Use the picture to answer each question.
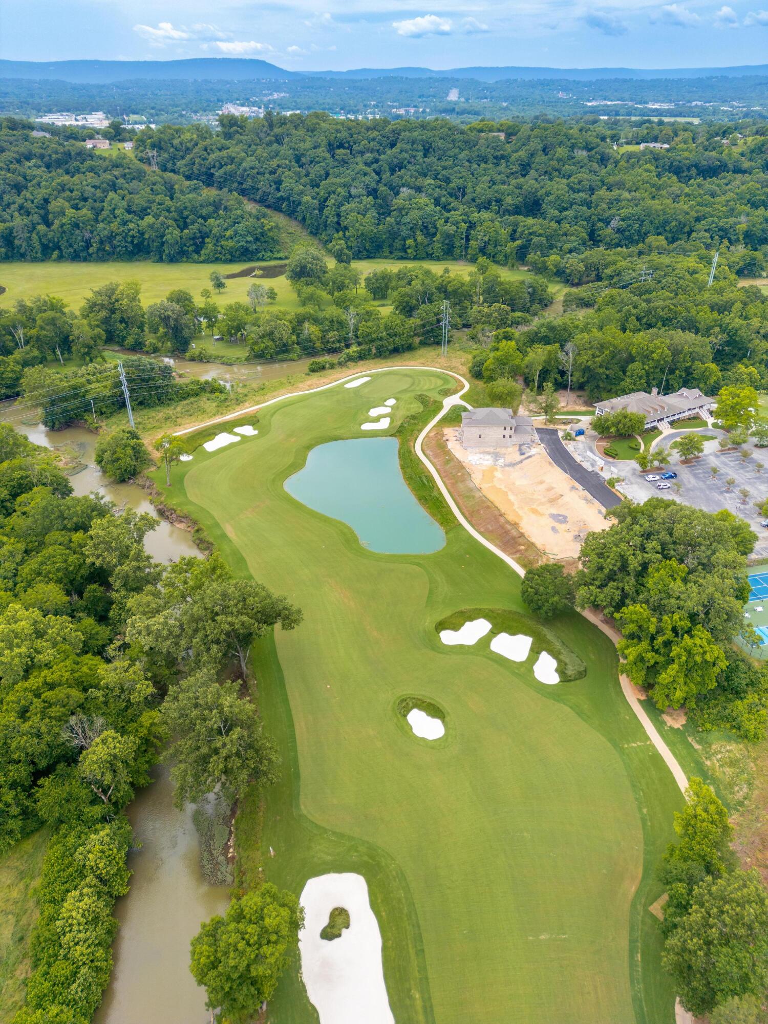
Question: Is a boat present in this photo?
No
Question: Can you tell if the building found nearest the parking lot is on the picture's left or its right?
right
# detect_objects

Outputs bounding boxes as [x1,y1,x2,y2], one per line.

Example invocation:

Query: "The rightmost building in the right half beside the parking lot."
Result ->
[593,380,717,439]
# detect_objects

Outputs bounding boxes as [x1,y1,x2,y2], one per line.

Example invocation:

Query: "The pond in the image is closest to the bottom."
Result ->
[283,437,446,554]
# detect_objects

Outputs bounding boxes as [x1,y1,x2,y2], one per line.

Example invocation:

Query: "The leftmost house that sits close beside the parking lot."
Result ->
[459,402,532,446]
